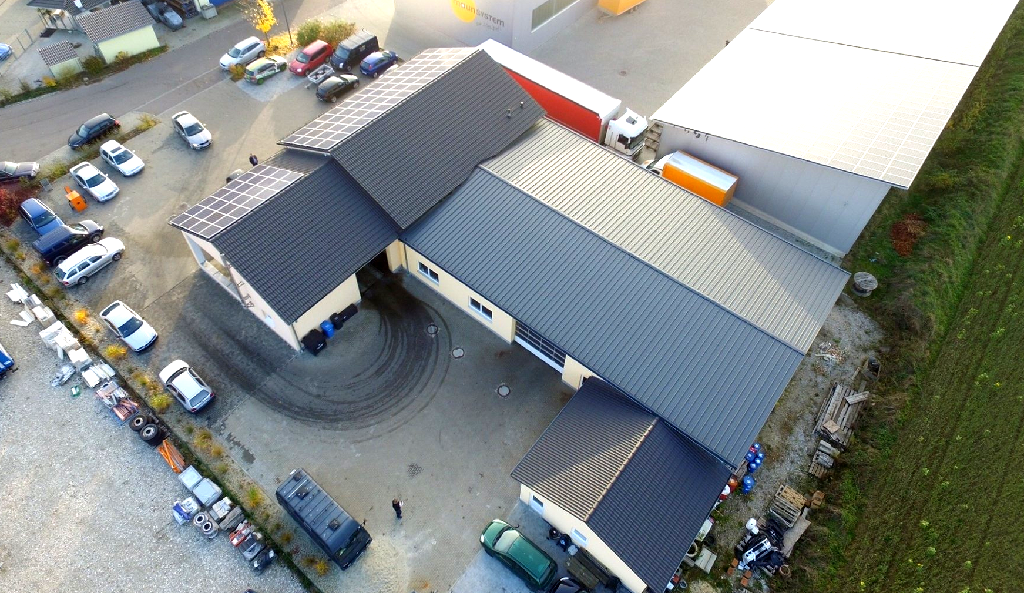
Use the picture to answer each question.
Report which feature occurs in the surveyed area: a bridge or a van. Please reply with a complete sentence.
The image shows a van.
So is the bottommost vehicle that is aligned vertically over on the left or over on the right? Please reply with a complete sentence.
The bottommost vehicle that is aligned vertically is on the left side of the image.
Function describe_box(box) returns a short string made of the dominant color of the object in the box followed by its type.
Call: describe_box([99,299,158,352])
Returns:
white car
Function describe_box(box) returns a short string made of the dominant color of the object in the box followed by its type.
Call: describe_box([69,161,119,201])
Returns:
white car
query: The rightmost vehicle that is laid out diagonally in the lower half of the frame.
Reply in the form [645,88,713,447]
[482,518,557,591]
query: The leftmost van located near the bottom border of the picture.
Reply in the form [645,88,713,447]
[274,467,373,570]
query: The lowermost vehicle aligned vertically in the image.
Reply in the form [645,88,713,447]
[0,338,23,387]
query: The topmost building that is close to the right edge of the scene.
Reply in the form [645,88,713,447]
[651,0,1017,262]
